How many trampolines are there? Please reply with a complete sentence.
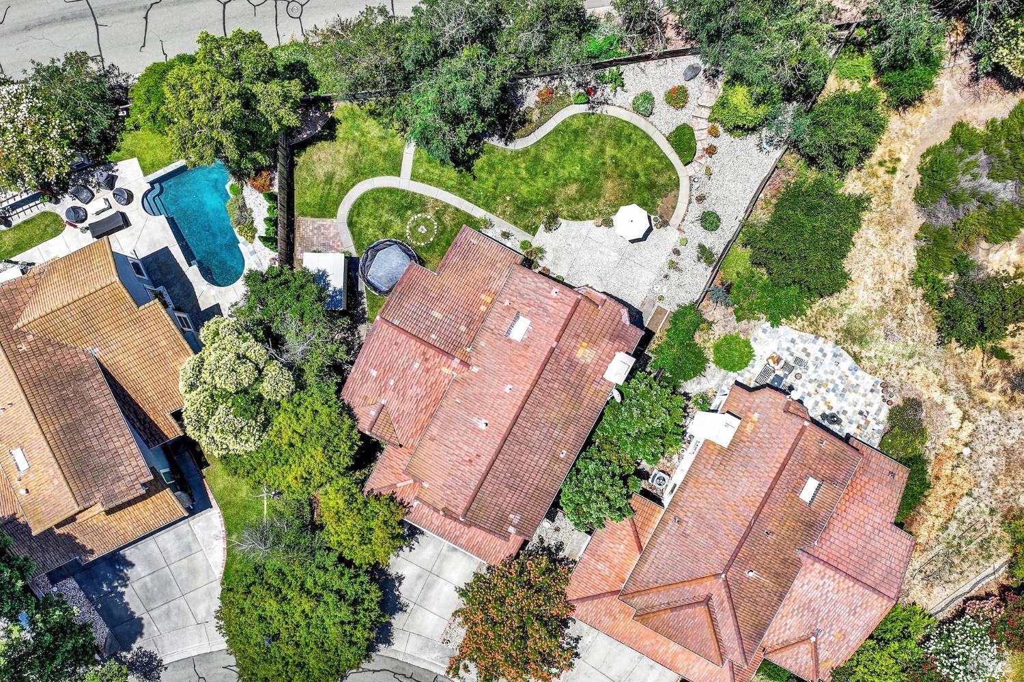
I count just 1 trampoline.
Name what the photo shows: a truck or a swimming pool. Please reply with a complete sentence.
I can see a swimming pool in this picture.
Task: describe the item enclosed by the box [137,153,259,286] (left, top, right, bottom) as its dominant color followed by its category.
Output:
blue swimming pool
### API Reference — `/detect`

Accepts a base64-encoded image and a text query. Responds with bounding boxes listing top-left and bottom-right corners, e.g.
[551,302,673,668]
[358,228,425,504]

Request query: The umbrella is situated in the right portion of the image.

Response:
[612,205,650,244]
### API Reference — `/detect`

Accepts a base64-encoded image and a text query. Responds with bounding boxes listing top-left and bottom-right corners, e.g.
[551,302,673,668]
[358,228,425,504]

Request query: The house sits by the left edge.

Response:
[0,234,205,590]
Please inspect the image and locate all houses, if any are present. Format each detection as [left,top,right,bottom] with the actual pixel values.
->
[0,234,205,590]
[338,224,646,574]
[555,384,918,682]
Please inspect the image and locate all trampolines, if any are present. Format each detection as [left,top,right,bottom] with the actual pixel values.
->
[354,236,417,297]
